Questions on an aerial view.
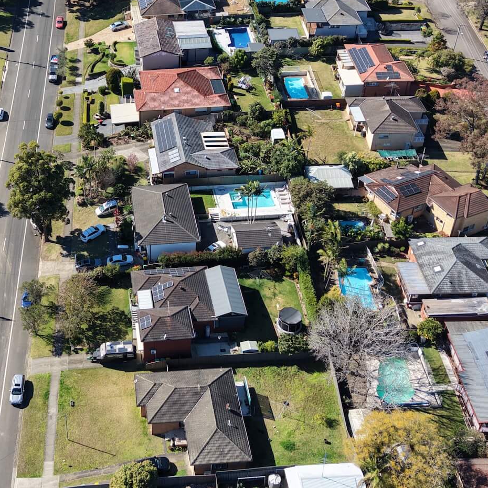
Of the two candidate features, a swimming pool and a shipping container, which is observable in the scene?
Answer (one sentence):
This aerial view contains a swimming pool.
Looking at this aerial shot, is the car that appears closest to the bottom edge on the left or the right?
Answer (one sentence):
The car that appears closest to the bottom edge is on the left side of the image.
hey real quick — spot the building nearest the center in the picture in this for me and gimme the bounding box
[228,222,281,260]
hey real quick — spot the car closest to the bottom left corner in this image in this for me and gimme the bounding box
[8,375,24,406]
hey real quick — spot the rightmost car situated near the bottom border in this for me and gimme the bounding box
[144,452,181,479]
